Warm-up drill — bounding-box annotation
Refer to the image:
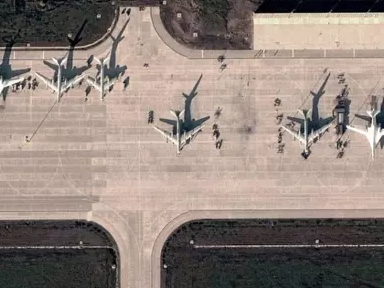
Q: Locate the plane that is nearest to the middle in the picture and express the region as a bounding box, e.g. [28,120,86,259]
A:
[154,107,204,154]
